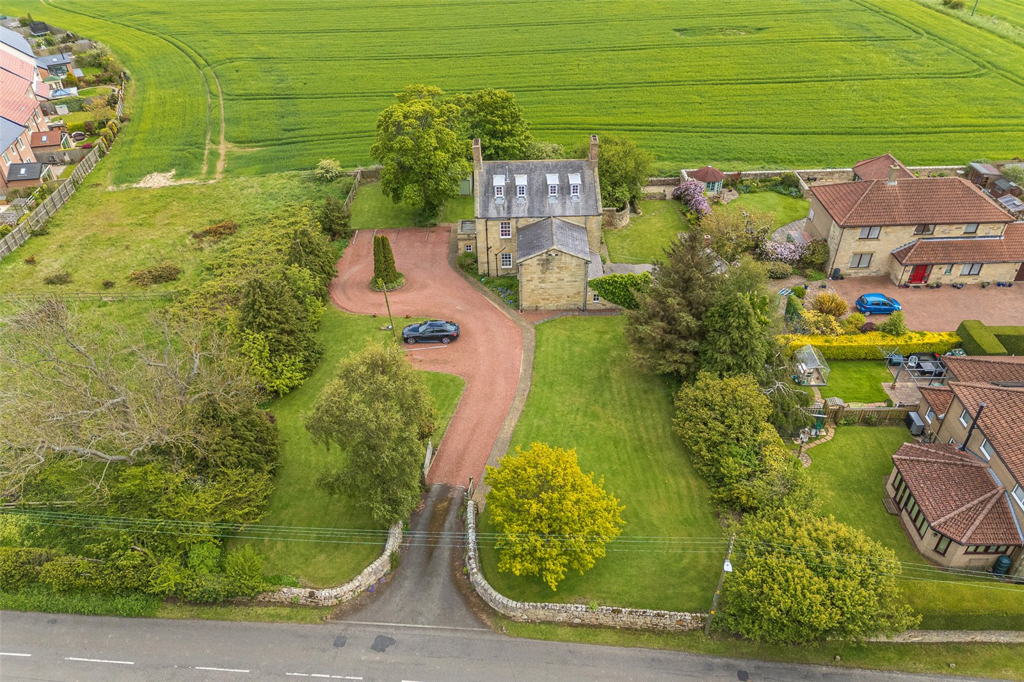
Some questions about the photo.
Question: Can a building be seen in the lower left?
No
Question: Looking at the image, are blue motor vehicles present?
Yes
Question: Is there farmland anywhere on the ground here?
Yes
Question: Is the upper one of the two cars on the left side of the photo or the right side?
right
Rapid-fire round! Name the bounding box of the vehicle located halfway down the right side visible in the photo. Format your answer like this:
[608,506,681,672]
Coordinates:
[857,291,902,314]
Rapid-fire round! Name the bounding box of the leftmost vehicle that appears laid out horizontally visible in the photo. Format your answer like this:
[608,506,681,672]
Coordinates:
[403,320,460,345]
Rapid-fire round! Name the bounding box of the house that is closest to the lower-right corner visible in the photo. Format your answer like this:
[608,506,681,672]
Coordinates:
[879,351,1024,581]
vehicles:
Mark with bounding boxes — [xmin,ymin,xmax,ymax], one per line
[403,320,460,345]
[857,291,902,314]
